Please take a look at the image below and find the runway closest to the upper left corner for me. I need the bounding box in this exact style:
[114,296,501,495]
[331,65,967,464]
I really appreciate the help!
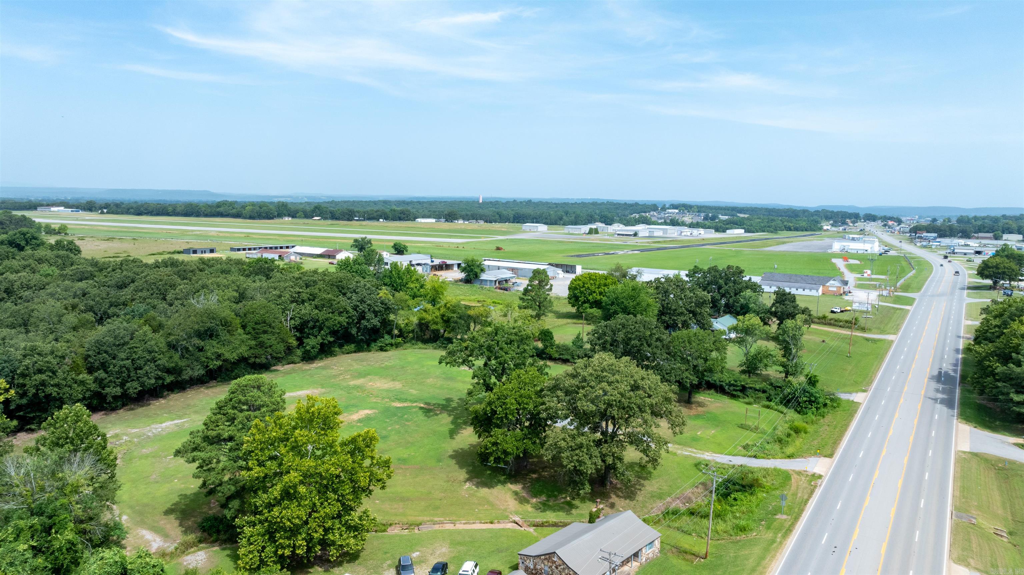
[35,219,466,243]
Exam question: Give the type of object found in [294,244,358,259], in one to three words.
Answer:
barn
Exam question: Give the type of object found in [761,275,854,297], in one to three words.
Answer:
building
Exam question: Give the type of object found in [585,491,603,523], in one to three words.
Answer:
chimney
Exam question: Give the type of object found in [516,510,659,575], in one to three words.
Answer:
house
